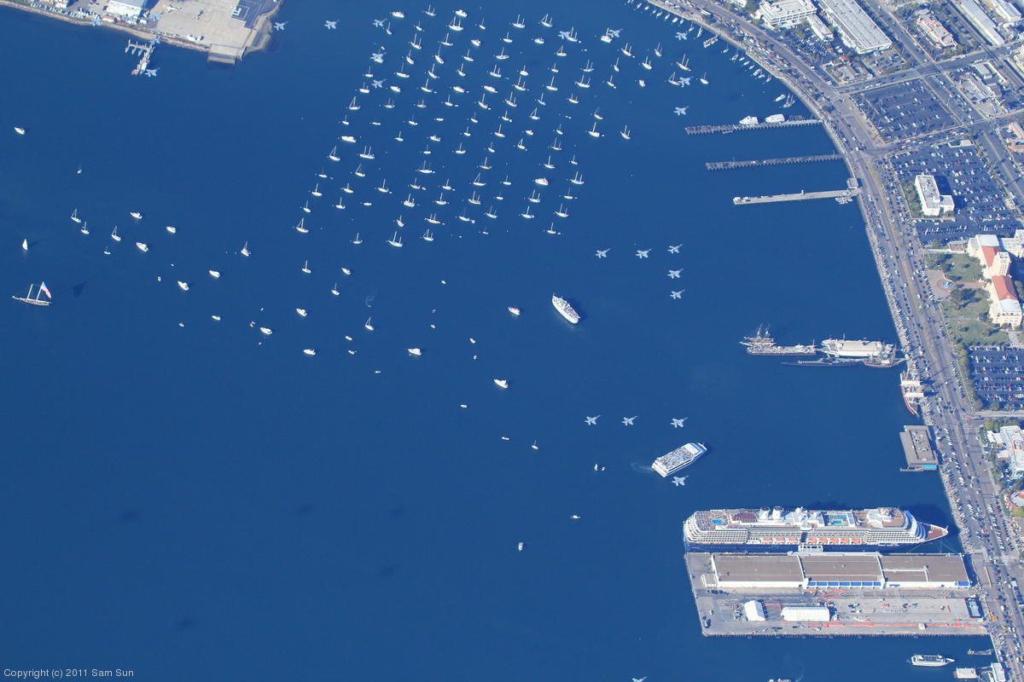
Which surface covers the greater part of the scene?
water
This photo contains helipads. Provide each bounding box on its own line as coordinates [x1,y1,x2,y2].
[231,3,250,20]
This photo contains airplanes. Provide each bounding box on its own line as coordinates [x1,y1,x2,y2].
[674,32,691,39]
[634,249,653,258]
[557,31,573,39]
[582,416,602,427]
[670,477,690,487]
[673,107,690,116]
[368,80,385,88]
[670,418,688,428]
[370,19,388,26]
[143,68,162,76]
[620,416,640,426]
[631,677,649,682]
[666,245,684,254]
[369,53,386,60]
[667,270,684,279]
[606,29,623,36]
[594,249,611,258]
[271,22,289,30]
[668,290,685,299]
[323,21,339,29]
[677,77,693,85]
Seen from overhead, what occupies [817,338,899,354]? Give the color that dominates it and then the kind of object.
white ship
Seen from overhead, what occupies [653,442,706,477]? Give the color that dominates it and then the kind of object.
white boat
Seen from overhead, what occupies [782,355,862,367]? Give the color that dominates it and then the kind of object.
blue ship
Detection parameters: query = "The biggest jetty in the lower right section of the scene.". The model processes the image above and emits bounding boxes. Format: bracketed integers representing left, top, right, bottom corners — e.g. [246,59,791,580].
[684,552,990,638]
